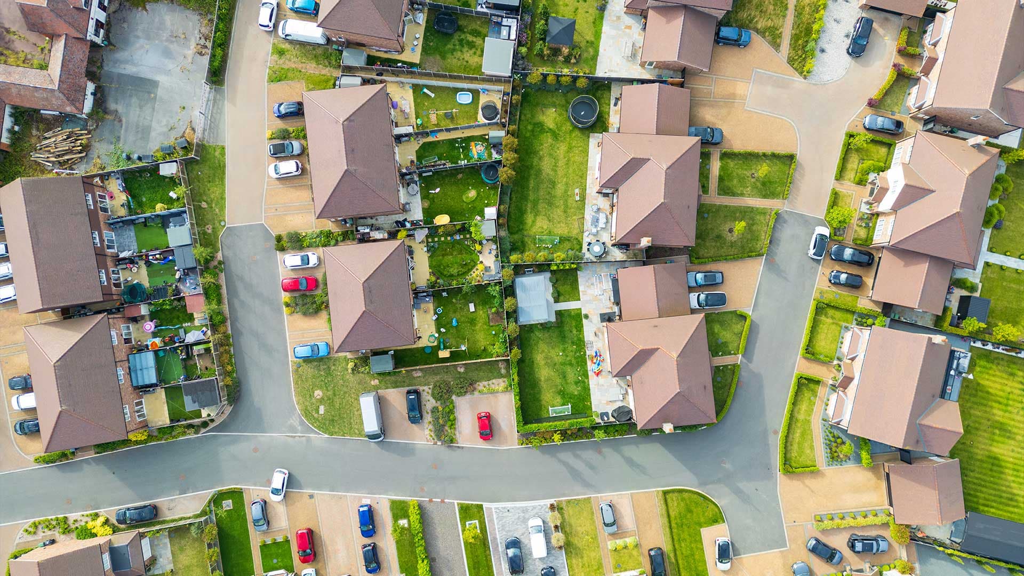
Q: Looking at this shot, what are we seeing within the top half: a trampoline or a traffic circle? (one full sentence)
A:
There is a trampoline within the top half.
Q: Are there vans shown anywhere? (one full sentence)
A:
Yes, the picture does show a van.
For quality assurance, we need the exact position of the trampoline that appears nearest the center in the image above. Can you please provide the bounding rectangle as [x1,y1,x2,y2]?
[481,161,500,181]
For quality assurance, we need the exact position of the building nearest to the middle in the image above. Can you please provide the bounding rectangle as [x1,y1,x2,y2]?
[515,275,549,323]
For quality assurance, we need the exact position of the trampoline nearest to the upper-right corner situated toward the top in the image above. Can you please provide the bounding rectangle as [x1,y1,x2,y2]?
[570,94,600,126]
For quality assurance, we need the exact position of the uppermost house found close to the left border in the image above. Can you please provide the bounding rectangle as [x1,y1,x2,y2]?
[22,0,112,48]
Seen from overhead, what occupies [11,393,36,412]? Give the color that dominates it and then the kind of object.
white car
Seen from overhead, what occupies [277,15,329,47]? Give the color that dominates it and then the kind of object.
white van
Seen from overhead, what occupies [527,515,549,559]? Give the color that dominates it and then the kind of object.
white car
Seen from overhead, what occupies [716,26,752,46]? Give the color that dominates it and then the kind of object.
blue car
